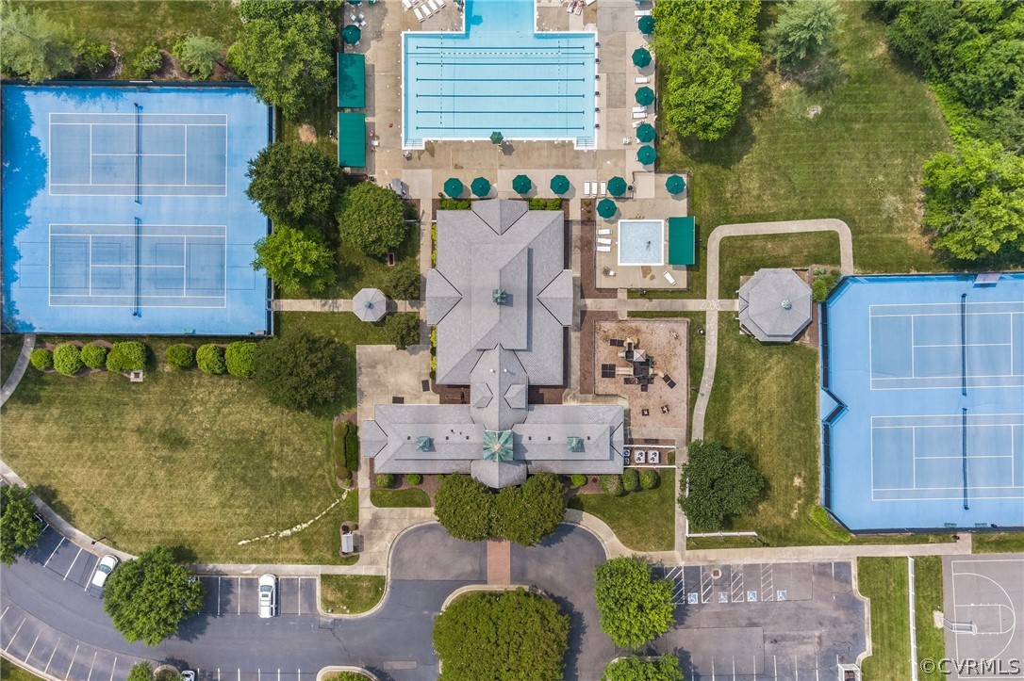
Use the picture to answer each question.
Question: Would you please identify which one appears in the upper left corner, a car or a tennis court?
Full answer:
You can see a tennis court in the upper left corner.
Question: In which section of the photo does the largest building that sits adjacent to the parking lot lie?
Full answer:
Look in the center portion of the view to spot the largest building that sits adjacent to the parking lot.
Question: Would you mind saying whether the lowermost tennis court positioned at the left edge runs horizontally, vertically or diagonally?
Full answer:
Seen from above, the lowermost tennis court positioned at the left edge lies horizontally.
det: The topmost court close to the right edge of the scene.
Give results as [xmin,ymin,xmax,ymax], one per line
[870,295,1024,395]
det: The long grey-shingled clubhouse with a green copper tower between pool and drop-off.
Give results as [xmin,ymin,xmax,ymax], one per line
[363,199,625,488]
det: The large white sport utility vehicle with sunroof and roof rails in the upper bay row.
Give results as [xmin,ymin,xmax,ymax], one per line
[257,575,277,616]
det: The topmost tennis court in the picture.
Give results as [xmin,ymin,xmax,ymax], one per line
[49,101,227,205]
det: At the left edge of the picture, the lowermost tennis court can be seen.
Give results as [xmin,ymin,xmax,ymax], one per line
[20,216,256,314]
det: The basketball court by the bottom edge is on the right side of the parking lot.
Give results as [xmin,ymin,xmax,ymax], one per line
[952,560,1024,679]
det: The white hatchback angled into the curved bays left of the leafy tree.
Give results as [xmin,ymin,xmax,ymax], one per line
[89,553,118,591]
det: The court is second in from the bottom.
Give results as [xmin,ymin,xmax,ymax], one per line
[871,408,1024,508]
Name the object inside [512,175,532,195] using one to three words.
umbrella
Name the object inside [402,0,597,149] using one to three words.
swimming pool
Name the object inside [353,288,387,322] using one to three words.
gazebo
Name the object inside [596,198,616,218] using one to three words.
umbrella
